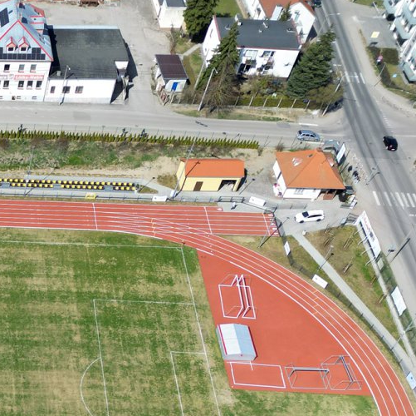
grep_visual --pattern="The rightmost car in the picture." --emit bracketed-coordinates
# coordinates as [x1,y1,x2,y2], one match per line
[383,132,401,148]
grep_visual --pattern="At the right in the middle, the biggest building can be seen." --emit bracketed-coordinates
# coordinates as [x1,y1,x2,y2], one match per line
[273,139,349,206]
